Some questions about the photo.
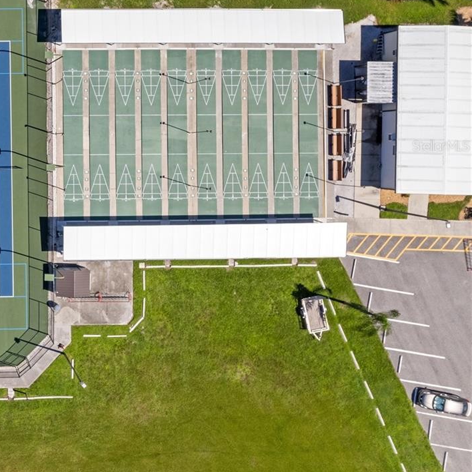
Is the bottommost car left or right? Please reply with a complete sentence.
The bottommost car sits on the right side.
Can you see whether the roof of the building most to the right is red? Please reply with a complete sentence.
No, the roof of the building most to the right is actually white.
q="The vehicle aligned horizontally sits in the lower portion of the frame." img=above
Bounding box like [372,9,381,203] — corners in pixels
[417,387,472,416]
